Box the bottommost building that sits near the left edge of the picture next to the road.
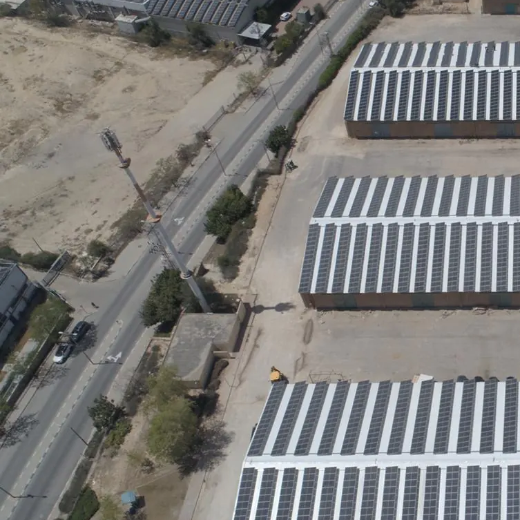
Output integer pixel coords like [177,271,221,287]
[0,271,43,352]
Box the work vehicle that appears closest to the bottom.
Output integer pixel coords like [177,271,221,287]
[266,366,280,387]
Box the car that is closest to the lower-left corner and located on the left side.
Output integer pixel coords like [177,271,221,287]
[54,342,76,362]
